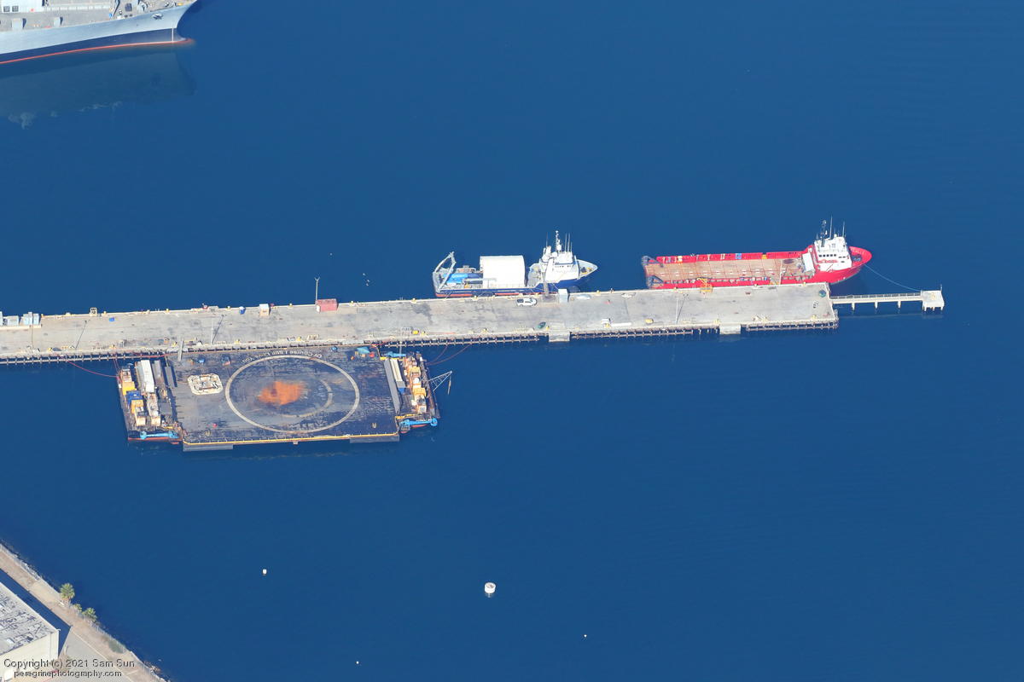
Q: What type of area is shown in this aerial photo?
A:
port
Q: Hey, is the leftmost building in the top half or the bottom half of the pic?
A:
bottom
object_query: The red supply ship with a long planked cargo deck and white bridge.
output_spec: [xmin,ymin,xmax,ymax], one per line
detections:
[643,217,873,290]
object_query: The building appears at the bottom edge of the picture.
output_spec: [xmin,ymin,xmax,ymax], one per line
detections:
[0,580,60,681]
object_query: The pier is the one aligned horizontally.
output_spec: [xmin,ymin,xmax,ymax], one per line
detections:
[0,283,841,367]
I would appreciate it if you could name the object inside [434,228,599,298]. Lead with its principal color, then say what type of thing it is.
white ship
